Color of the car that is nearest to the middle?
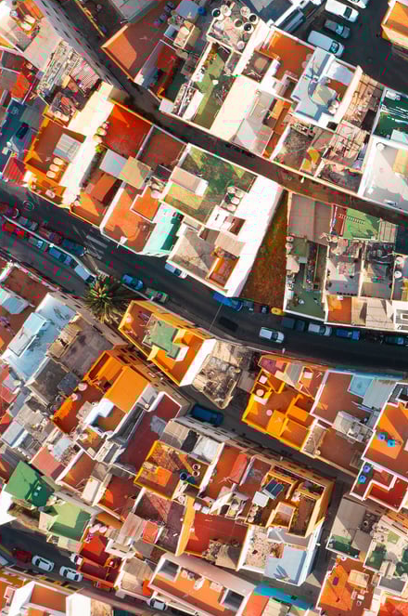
blue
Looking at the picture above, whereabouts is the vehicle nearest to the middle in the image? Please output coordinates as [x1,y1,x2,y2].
[213,290,241,311]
